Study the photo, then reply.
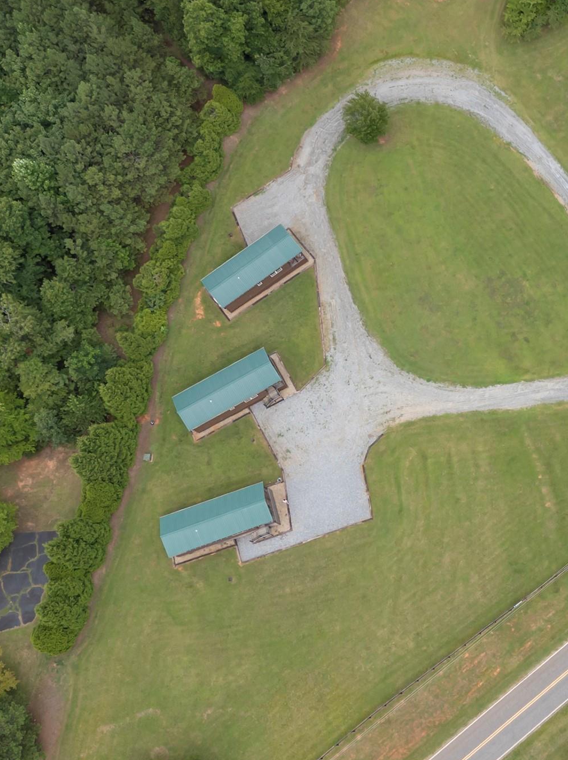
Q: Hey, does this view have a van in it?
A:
No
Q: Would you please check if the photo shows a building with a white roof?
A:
No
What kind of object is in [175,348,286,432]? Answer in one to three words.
building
